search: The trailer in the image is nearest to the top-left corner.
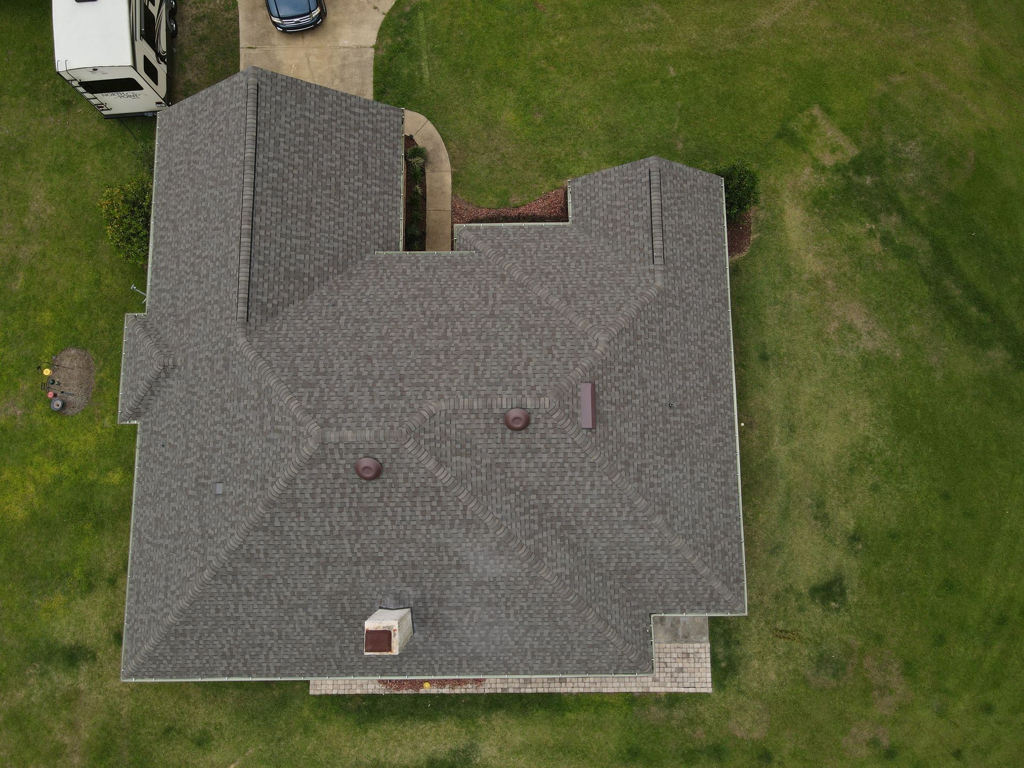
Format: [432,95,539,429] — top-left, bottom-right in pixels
[55,0,177,119]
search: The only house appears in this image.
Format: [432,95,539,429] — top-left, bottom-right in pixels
[118,66,747,681]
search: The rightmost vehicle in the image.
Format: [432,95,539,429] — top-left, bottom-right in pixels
[266,0,324,37]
